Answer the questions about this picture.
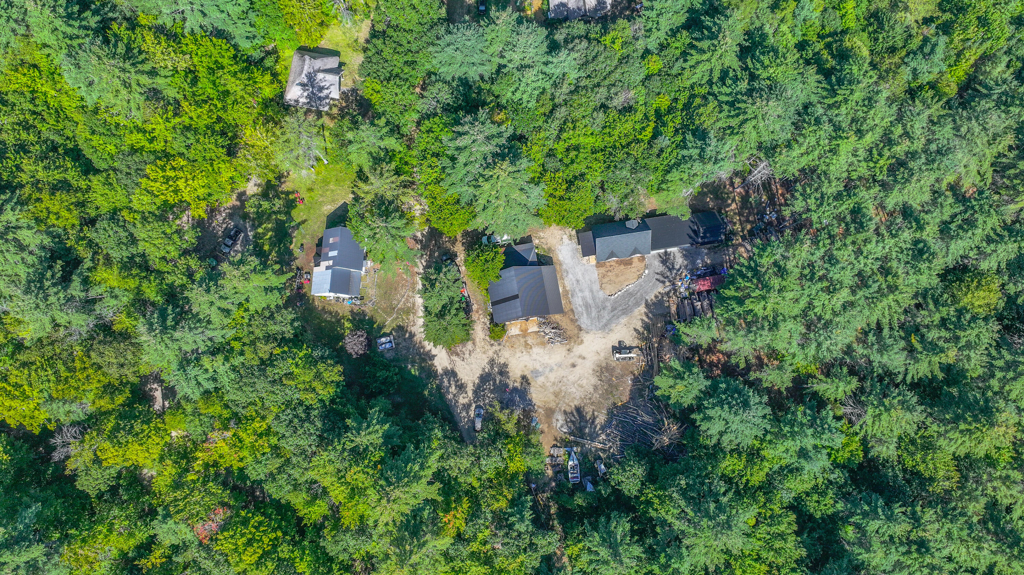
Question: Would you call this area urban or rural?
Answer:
rural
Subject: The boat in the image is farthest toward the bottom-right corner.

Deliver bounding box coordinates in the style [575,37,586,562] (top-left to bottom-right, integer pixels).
[596,461,609,480]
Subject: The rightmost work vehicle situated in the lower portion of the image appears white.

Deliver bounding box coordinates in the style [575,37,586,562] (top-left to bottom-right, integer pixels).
[612,347,652,362]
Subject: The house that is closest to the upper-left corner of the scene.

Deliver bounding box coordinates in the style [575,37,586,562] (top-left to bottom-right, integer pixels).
[284,51,348,113]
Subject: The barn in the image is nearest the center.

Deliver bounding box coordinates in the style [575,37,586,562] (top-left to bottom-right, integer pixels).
[486,265,563,323]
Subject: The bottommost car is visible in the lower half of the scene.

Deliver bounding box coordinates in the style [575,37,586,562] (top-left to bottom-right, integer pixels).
[472,407,485,436]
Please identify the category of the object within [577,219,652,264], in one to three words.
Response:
house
